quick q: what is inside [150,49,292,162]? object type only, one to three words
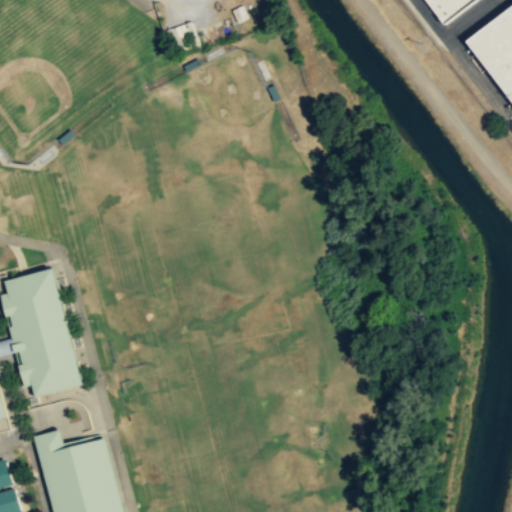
baseball field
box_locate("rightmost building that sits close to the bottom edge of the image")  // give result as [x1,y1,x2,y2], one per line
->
[34,431,124,512]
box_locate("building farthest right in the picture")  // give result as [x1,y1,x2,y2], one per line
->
[466,6,512,102]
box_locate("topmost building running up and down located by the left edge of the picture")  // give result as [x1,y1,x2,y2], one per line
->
[0,269,80,397]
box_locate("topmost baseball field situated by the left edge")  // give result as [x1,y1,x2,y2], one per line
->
[0,0,140,163]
